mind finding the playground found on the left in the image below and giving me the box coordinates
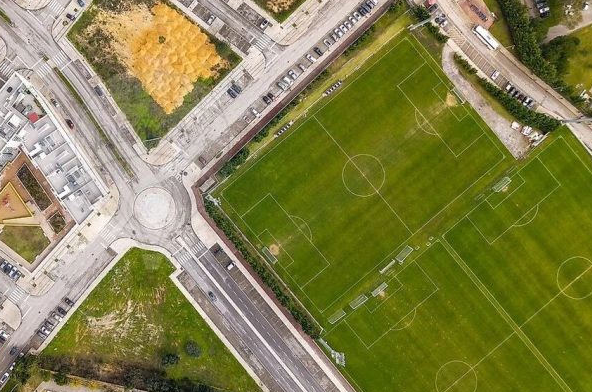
[0,183,32,221]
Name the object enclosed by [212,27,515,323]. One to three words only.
soccer field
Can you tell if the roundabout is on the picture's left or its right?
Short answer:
left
